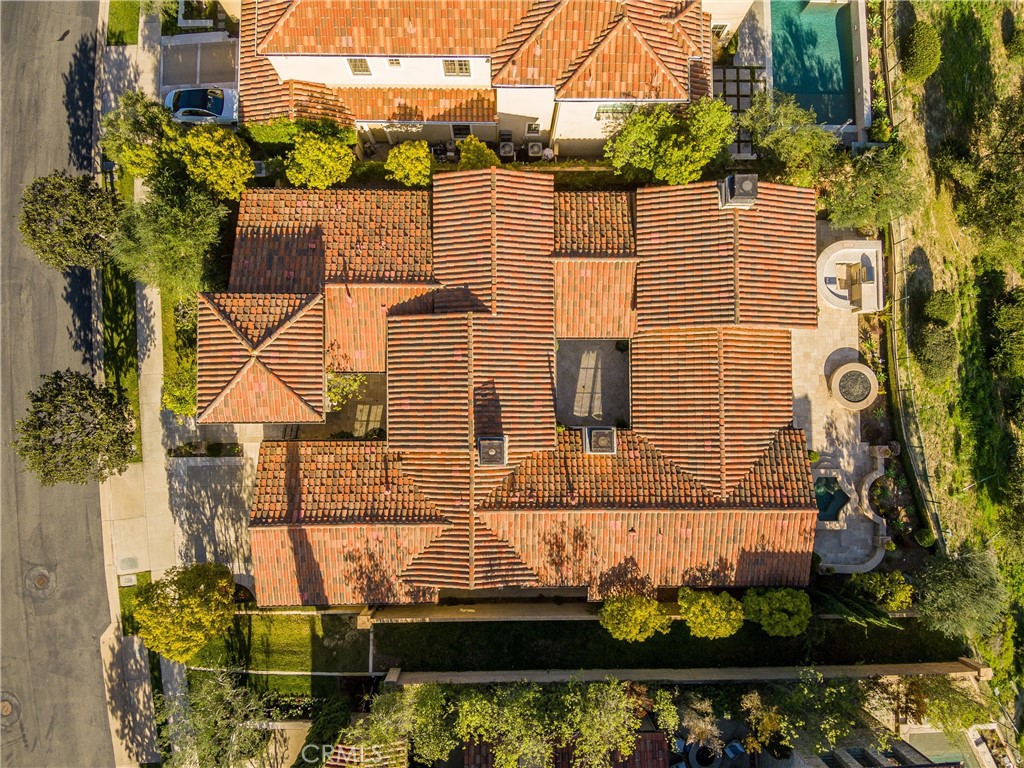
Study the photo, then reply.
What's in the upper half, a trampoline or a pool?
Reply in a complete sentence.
What appears in the upper half is a pool.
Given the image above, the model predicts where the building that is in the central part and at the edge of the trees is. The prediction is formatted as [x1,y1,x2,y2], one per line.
[195,168,818,608]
